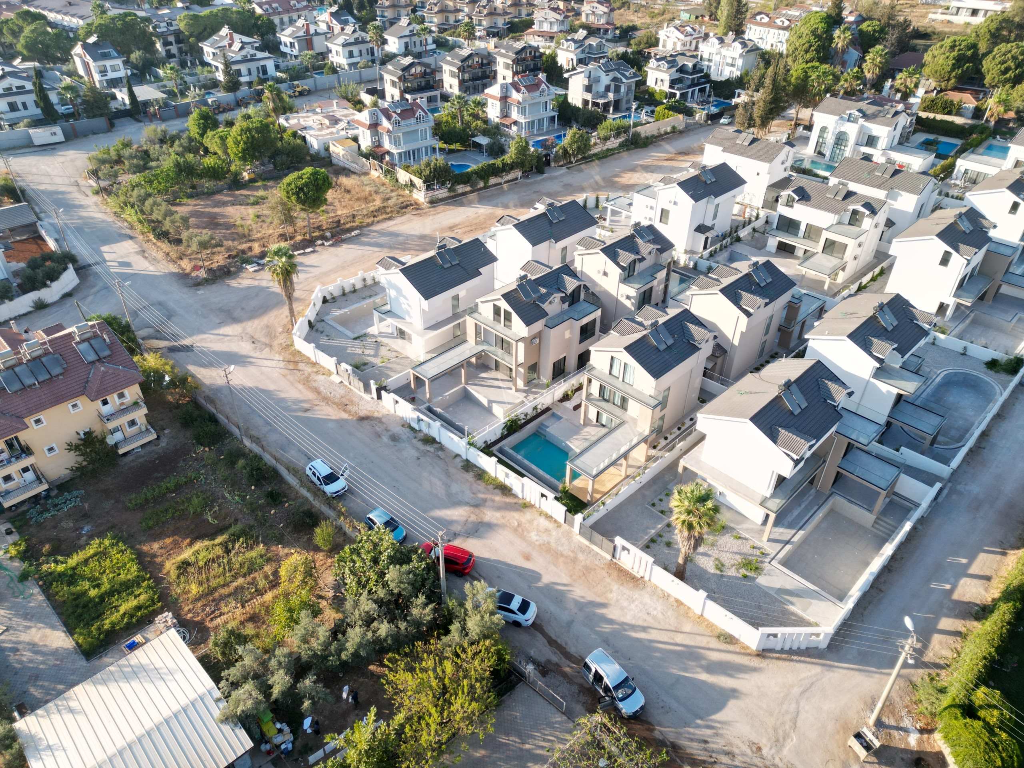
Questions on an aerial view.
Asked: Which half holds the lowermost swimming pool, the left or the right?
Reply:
right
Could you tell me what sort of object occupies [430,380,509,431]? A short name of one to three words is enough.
swimming pool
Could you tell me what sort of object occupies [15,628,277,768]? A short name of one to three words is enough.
shed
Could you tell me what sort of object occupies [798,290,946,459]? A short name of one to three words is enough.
house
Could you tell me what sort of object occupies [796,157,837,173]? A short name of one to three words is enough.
swimming pool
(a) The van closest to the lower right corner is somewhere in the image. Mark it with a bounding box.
[583,646,643,717]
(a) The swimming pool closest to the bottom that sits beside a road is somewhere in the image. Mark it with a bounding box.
[773,493,915,604]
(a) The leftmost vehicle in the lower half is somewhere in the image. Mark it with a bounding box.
[305,455,348,494]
